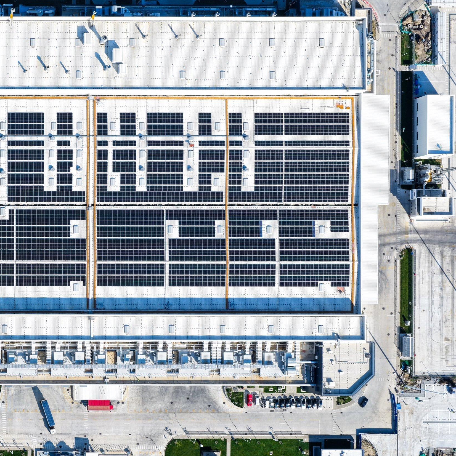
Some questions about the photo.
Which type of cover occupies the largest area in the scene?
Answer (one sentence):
The scene is dominated by buildings.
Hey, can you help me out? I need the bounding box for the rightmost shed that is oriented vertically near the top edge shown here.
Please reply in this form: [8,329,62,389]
[430,11,447,67]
